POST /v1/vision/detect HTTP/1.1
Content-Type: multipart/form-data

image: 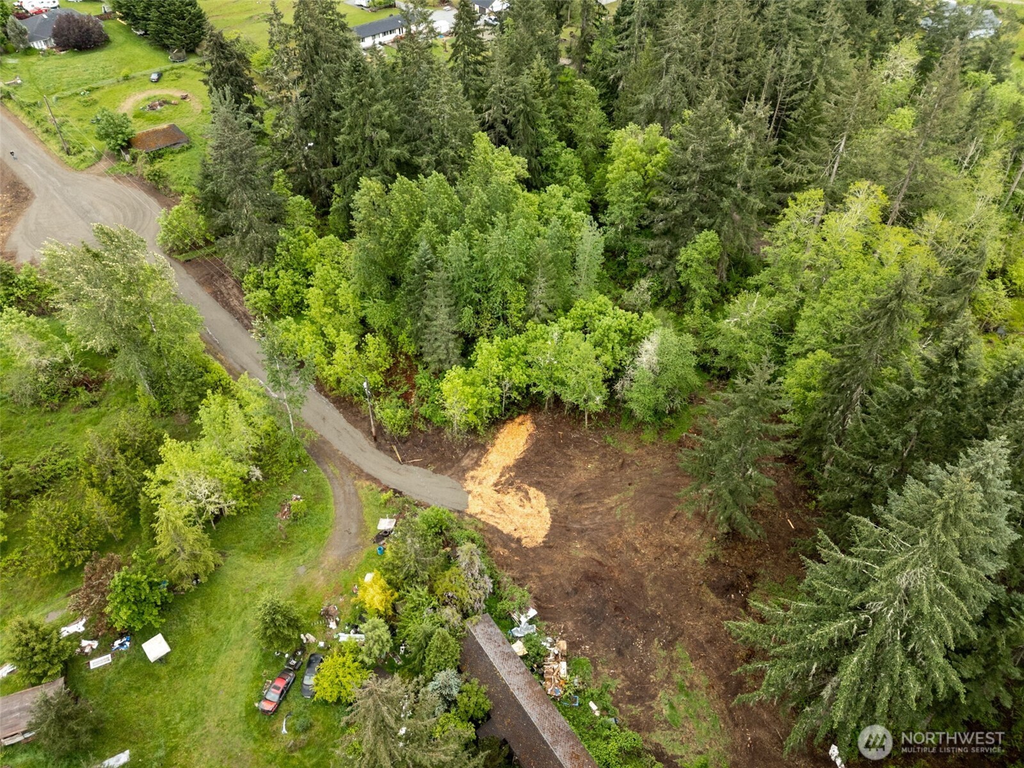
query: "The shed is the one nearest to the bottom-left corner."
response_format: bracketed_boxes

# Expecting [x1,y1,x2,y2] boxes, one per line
[0,677,71,751]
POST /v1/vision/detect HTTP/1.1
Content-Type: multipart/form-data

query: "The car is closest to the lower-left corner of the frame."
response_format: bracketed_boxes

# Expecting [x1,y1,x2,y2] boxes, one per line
[257,663,296,715]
